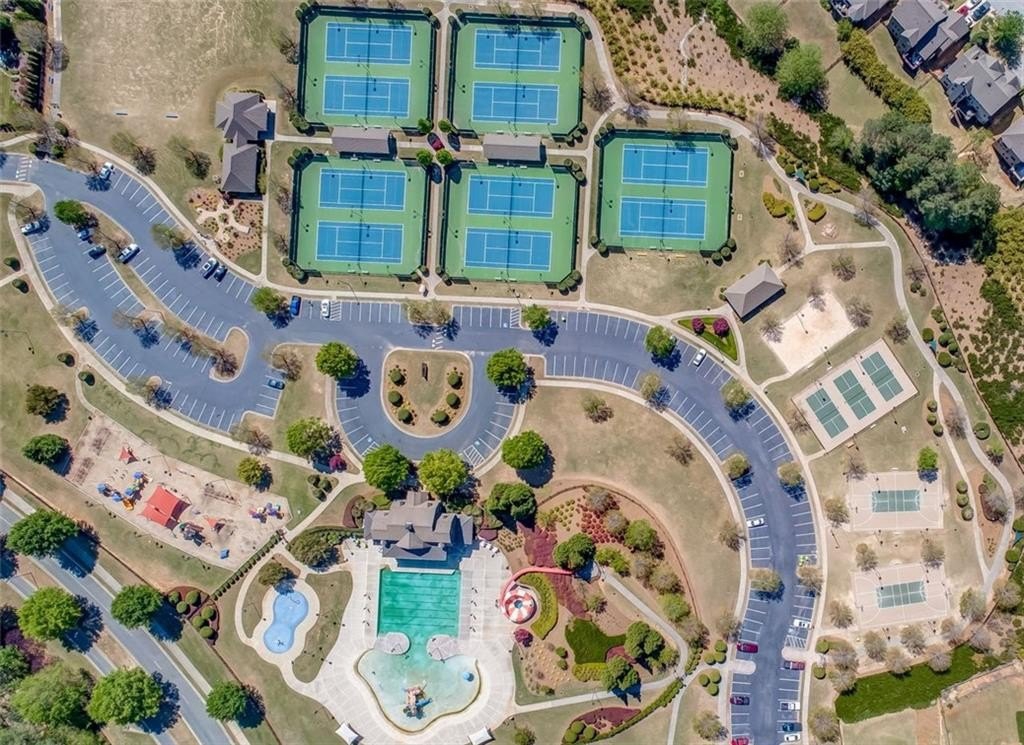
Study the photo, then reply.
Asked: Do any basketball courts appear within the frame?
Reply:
Yes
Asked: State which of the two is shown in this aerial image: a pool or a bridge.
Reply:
pool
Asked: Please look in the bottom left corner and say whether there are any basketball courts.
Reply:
No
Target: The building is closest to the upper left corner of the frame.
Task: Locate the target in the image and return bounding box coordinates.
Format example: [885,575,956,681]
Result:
[216,94,270,193]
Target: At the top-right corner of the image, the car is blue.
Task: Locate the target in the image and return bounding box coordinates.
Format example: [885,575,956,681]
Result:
[974,2,990,19]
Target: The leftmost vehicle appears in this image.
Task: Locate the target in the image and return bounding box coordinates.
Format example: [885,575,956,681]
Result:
[20,221,39,234]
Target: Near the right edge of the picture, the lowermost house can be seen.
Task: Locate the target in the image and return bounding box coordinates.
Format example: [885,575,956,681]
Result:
[977,112,1024,189]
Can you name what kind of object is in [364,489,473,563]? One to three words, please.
building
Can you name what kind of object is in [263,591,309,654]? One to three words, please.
swimming pool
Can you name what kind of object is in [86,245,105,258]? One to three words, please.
vehicle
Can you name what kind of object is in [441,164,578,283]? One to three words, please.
tennis court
